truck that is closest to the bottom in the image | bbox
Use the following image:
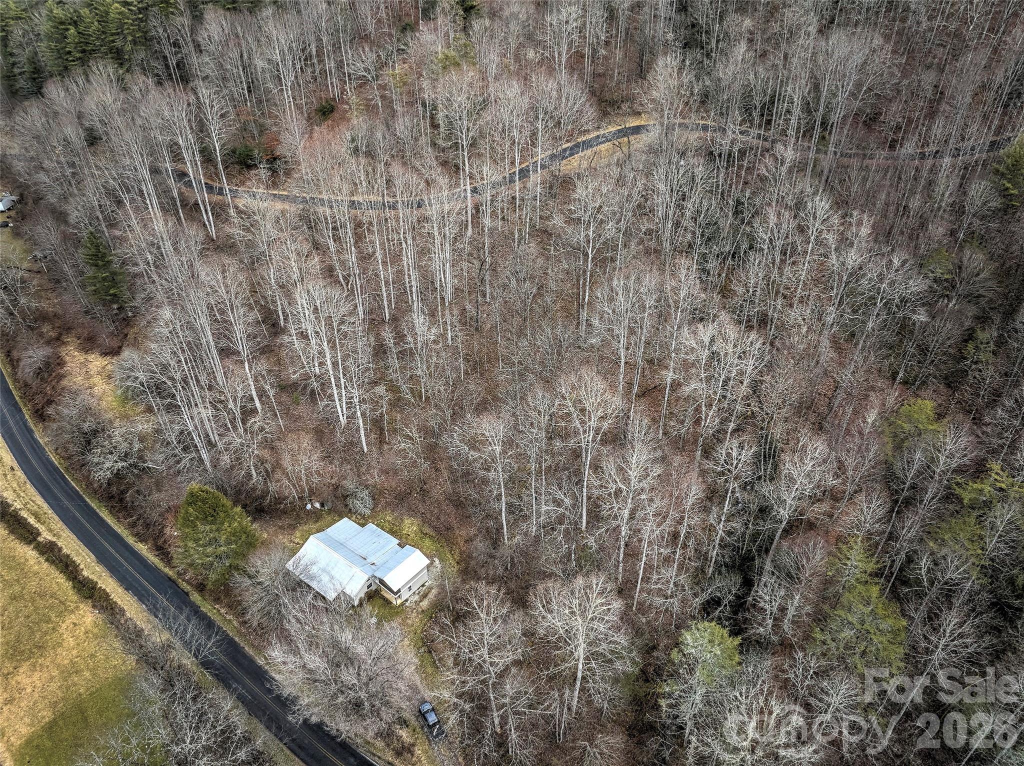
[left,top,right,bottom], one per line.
[416,699,449,744]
